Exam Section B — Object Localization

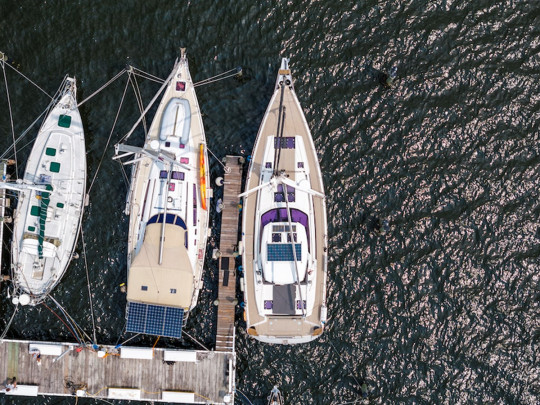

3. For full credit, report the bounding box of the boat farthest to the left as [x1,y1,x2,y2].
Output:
[0,75,89,305]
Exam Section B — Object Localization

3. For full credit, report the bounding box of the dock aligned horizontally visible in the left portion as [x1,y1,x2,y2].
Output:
[0,338,237,405]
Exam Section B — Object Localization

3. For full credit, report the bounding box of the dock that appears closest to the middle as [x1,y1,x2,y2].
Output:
[214,156,247,352]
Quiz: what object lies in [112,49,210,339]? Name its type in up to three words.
boat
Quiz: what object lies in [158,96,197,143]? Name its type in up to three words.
boat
